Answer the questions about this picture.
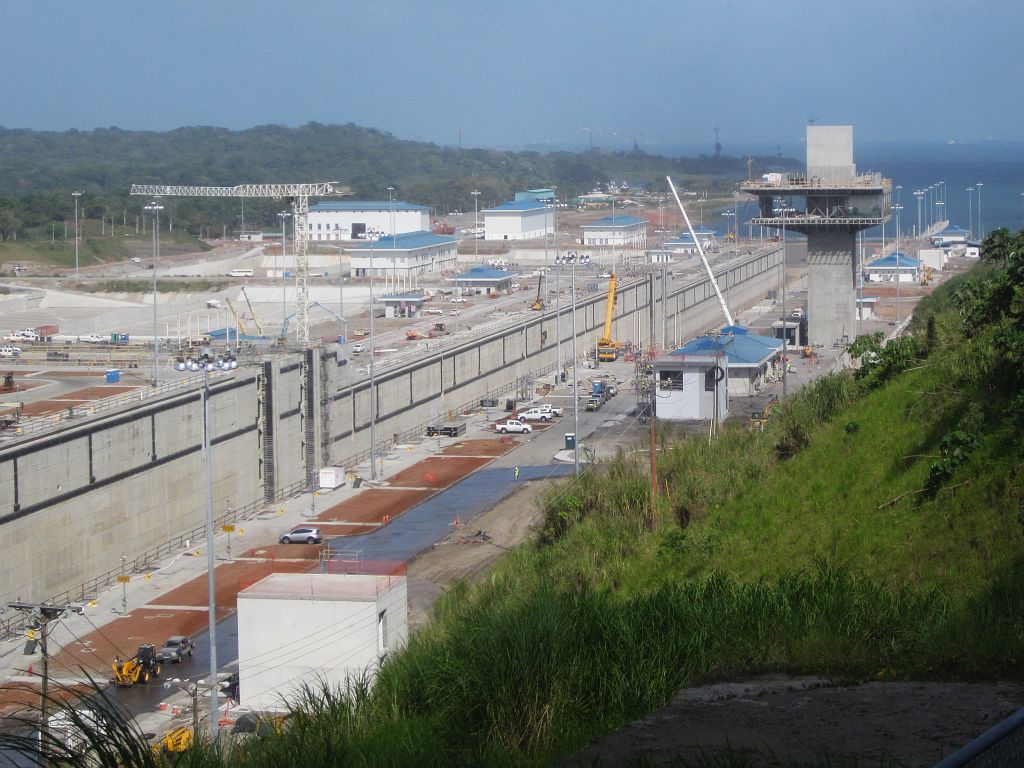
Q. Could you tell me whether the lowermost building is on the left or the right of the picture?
left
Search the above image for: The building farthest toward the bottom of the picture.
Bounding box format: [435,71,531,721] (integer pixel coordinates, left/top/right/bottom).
[222,576,408,715]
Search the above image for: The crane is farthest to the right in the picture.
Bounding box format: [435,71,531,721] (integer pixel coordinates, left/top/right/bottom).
[666,175,732,331]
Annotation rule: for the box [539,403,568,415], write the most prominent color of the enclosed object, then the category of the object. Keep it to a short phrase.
white vehicle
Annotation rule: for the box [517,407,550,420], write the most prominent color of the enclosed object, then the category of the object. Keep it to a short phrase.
white vehicle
